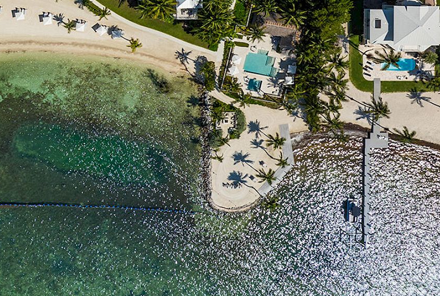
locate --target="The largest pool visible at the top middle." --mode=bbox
[226,35,298,97]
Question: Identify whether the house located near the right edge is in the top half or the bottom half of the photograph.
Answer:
top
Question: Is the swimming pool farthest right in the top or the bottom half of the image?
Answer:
top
